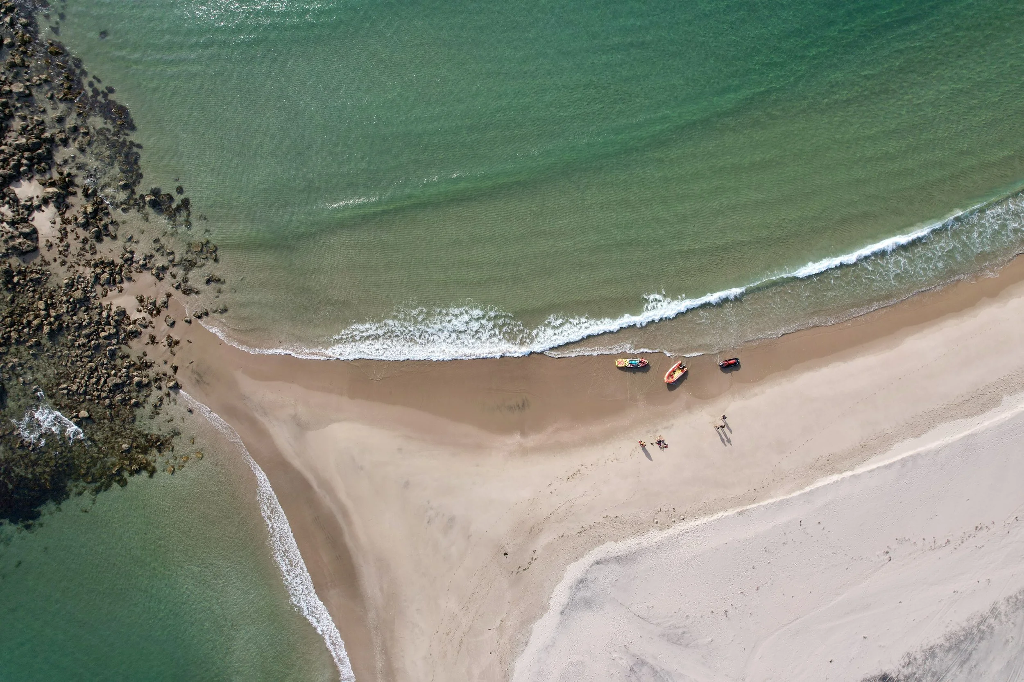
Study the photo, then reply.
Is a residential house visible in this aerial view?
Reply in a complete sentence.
No, the photo shows no residential house.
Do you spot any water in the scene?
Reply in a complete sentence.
Yes, some water is visible.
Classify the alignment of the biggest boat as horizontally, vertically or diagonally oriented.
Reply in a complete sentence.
The biggest boat is laid out diagonally.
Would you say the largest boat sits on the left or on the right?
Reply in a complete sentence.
You can find the largest boat on the right side of the picture.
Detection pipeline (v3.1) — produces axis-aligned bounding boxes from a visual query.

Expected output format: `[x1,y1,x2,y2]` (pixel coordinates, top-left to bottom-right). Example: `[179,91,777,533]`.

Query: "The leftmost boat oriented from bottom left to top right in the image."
[666,359,690,381]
